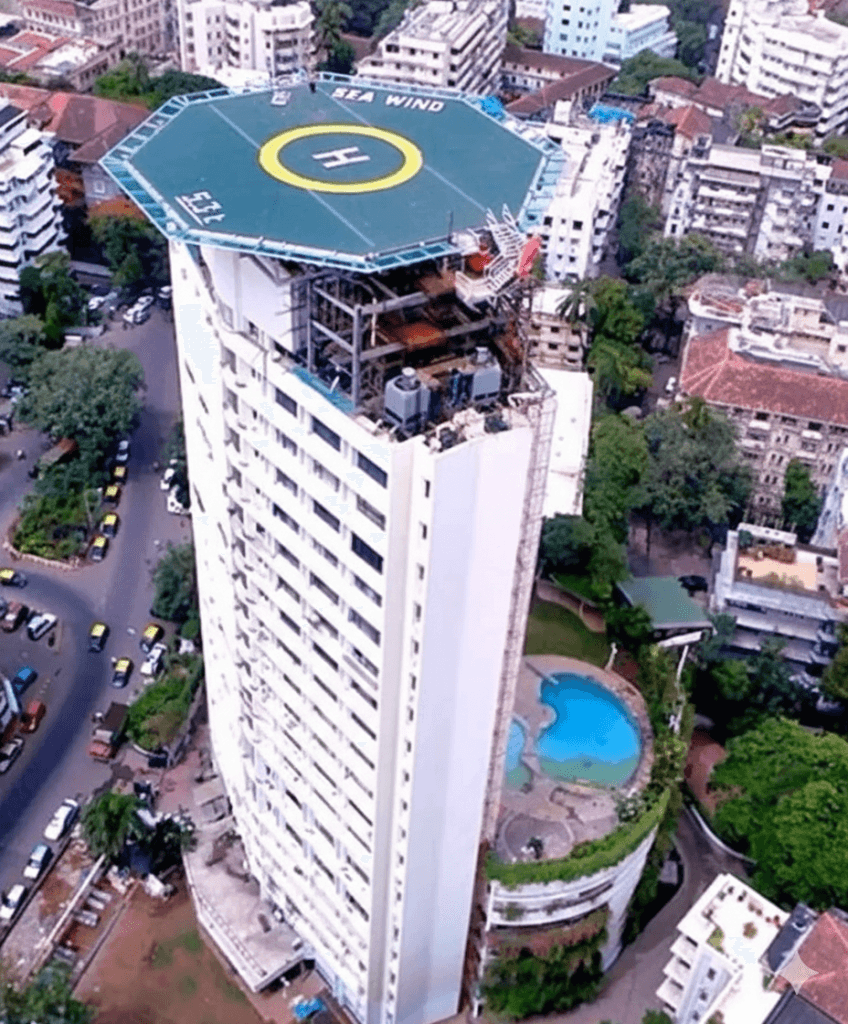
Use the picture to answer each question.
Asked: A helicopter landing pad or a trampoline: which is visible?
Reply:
helicopter landing pad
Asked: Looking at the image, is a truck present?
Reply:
Yes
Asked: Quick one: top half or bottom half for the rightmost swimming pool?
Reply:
bottom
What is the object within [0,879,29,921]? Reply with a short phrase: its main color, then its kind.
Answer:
white car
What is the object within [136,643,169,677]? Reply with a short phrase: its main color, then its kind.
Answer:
white car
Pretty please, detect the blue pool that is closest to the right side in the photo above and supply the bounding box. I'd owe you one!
[534,670,646,791]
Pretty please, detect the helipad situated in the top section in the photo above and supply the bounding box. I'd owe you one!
[100,69,564,404]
